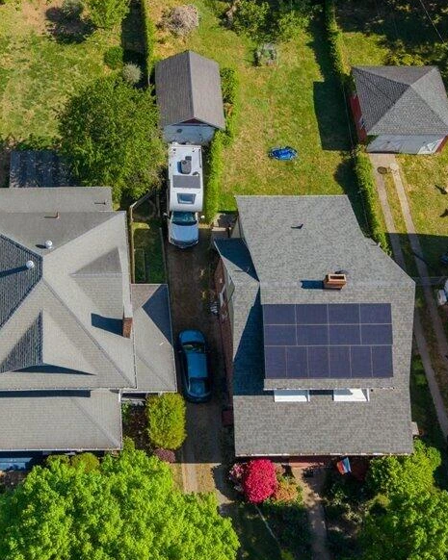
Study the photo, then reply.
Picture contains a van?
Yes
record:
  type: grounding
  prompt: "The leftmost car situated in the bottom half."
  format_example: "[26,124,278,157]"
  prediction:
[176,329,216,407]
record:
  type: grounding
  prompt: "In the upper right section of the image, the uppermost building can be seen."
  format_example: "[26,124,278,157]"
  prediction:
[346,65,448,153]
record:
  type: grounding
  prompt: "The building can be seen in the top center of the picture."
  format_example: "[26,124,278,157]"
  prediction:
[158,50,226,148]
